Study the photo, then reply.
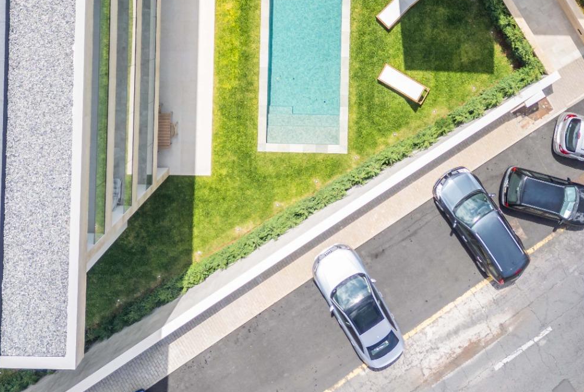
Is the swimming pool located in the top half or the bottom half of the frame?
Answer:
top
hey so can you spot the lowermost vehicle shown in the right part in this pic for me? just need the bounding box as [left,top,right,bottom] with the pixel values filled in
[313,239,405,371]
